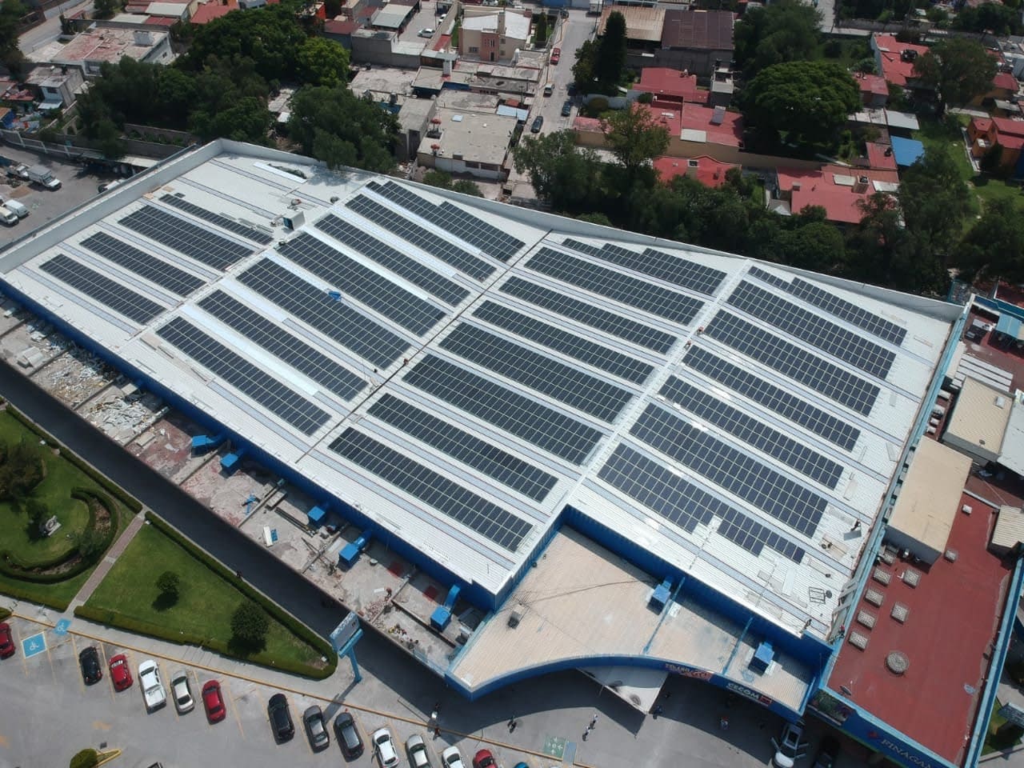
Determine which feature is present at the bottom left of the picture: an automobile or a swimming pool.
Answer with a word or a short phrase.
automobile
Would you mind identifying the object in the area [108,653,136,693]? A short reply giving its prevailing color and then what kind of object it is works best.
red car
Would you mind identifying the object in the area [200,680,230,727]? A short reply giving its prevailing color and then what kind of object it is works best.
red car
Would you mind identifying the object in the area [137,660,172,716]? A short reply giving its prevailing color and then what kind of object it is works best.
white truck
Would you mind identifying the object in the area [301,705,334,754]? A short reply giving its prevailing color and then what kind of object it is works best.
gray car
